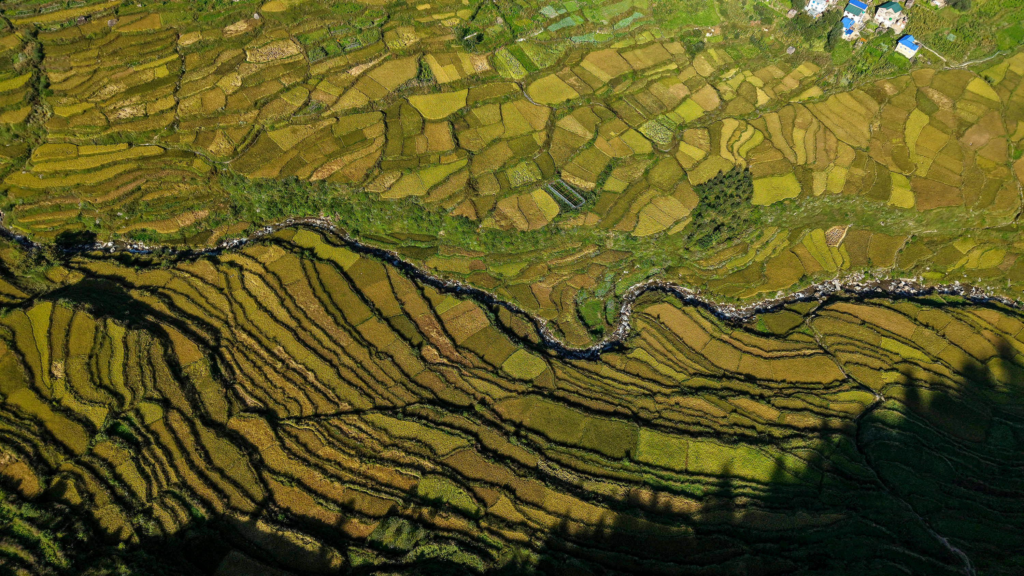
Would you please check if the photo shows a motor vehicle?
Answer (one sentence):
No, there is no motor vehicle in the image.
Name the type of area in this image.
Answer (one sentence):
This image shows farmland.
